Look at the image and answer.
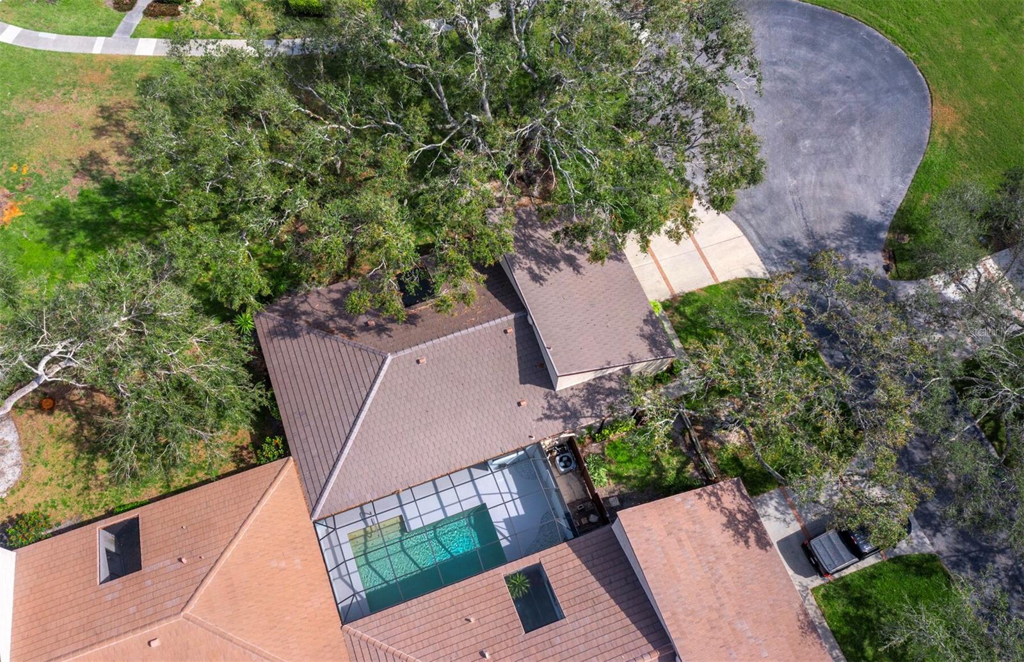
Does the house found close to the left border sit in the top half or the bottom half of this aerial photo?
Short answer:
bottom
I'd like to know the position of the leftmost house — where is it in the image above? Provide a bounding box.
[0,455,353,662]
